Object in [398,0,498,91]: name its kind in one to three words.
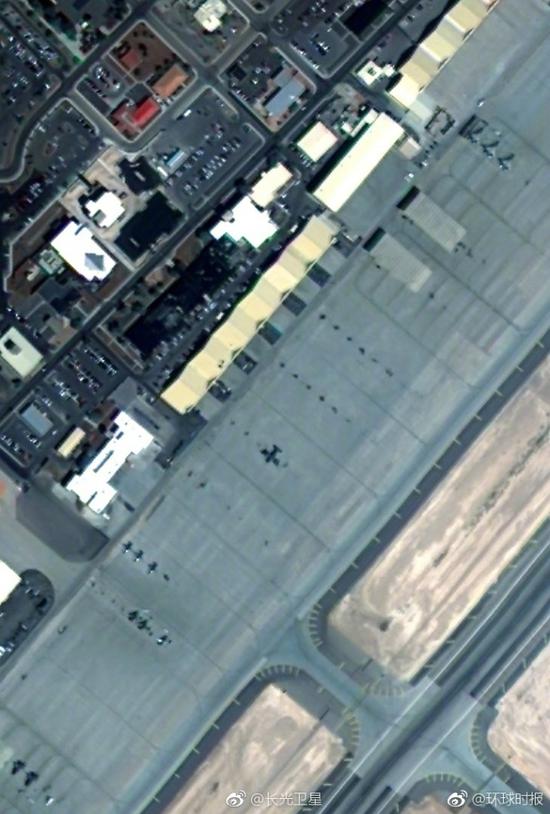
hangar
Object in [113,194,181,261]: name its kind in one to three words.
building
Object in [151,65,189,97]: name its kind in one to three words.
house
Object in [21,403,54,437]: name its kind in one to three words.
building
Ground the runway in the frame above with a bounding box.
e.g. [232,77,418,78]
[295,513,550,814]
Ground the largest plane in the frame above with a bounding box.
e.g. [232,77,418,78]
[262,447,280,464]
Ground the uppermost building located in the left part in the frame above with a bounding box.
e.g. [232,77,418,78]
[195,0,227,31]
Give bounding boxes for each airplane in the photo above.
[149,561,158,572]
[123,541,134,552]
[14,759,24,773]
[134,550,145,561]
[262,447,280,464]
[129,610,140,622]
[140,618,150,630]
[28,770,37,782]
